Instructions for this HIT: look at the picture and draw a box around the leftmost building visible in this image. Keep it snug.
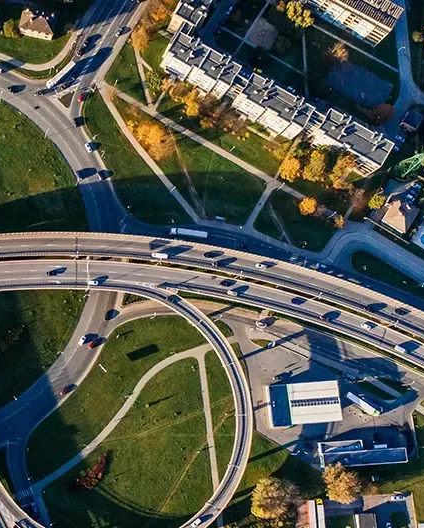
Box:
[19,4,61,38]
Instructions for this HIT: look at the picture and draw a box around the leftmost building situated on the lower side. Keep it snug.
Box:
[264,379,343,429]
